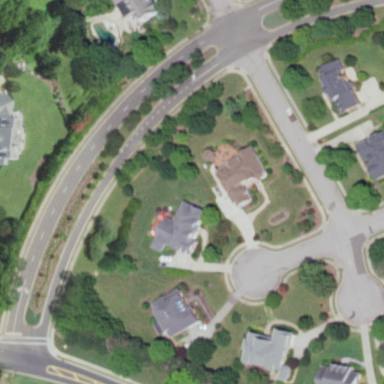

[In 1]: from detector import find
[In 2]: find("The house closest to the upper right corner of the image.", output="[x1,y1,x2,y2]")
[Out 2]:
[316,58,358,114]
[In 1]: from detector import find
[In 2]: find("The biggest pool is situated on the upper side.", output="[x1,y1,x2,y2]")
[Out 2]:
[92,22,120,50]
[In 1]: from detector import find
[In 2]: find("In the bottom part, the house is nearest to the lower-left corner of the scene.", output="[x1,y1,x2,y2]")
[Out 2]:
[152,289,198,337]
